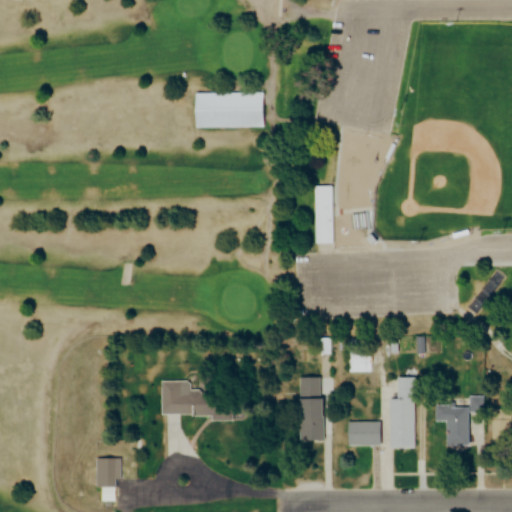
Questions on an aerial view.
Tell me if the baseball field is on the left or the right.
right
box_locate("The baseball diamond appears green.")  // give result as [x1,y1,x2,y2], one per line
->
[376,22,512,240]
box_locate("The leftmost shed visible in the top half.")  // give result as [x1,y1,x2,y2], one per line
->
[196,92,264,128]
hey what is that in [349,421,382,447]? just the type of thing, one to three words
house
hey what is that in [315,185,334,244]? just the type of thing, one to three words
building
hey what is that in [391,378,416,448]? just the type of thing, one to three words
house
